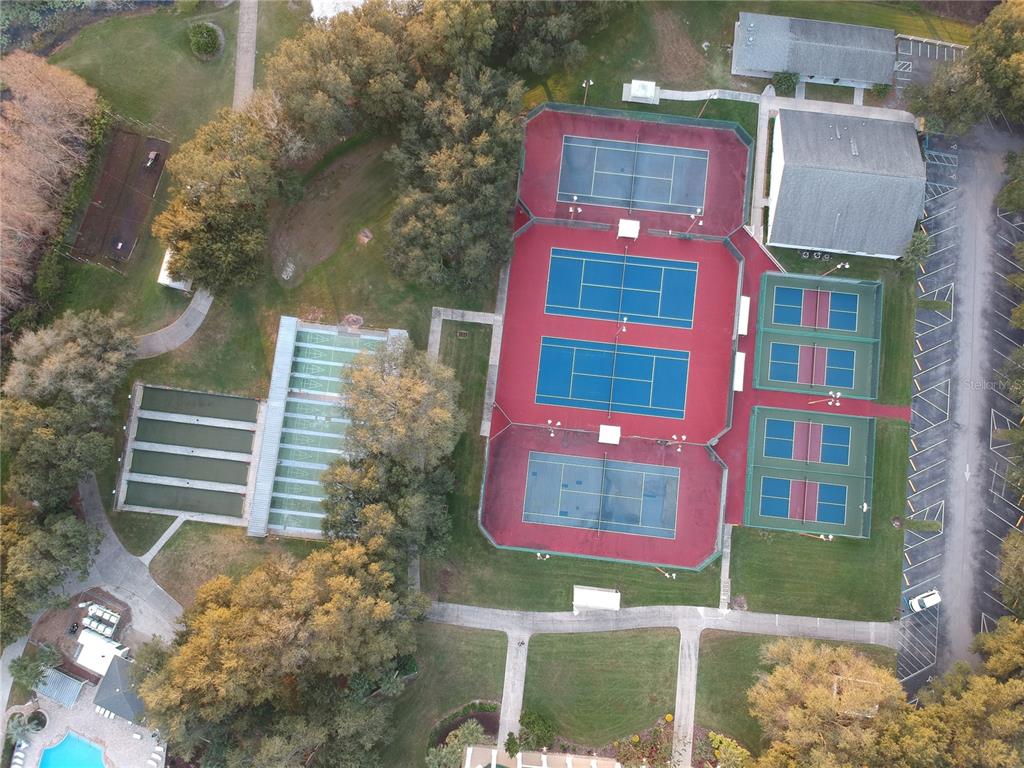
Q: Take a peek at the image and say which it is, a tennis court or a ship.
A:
tennis court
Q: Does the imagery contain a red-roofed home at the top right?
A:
No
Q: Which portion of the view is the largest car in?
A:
bottom right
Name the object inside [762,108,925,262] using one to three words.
building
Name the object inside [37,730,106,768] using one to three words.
swimming pool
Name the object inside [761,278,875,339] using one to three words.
sports court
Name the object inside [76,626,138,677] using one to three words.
building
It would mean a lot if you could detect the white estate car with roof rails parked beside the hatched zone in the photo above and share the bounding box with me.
[910,592,945,612]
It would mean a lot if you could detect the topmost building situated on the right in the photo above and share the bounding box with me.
[729,12,897,92]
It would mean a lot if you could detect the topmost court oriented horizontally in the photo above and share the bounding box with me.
[520,109,749,232]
